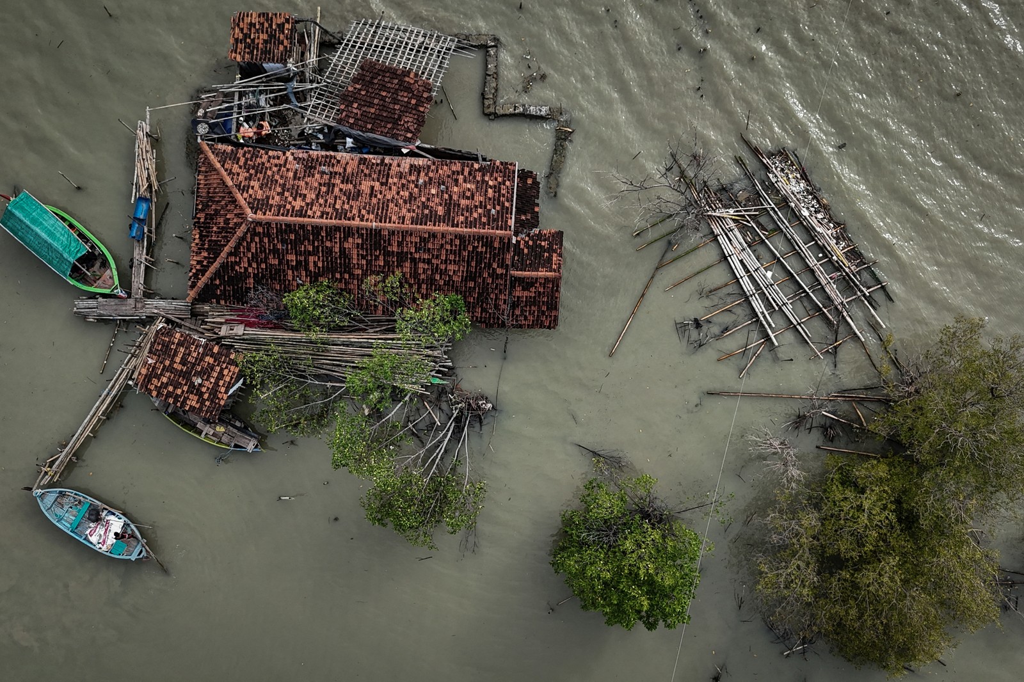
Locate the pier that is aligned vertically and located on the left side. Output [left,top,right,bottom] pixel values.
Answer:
[131,107,163,299]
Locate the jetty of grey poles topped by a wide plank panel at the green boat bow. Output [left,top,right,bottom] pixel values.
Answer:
[73,294,195,323]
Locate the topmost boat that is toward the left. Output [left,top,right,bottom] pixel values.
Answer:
[0,189,126,298]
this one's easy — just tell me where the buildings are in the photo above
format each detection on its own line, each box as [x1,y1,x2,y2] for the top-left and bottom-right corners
[135,323,260,422]
[227,10,308,77]
[334,58,434,148]
[184,131,565,330]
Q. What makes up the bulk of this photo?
water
